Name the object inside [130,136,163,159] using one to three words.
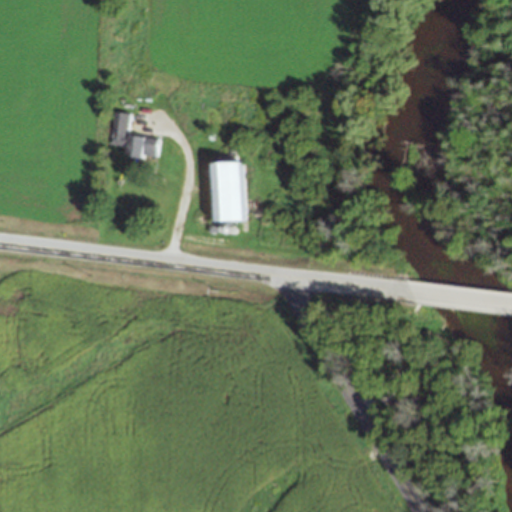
house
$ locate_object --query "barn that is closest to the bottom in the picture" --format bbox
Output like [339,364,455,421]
[210,162,250,223]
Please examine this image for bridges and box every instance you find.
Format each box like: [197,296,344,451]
[408,280,512,314]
